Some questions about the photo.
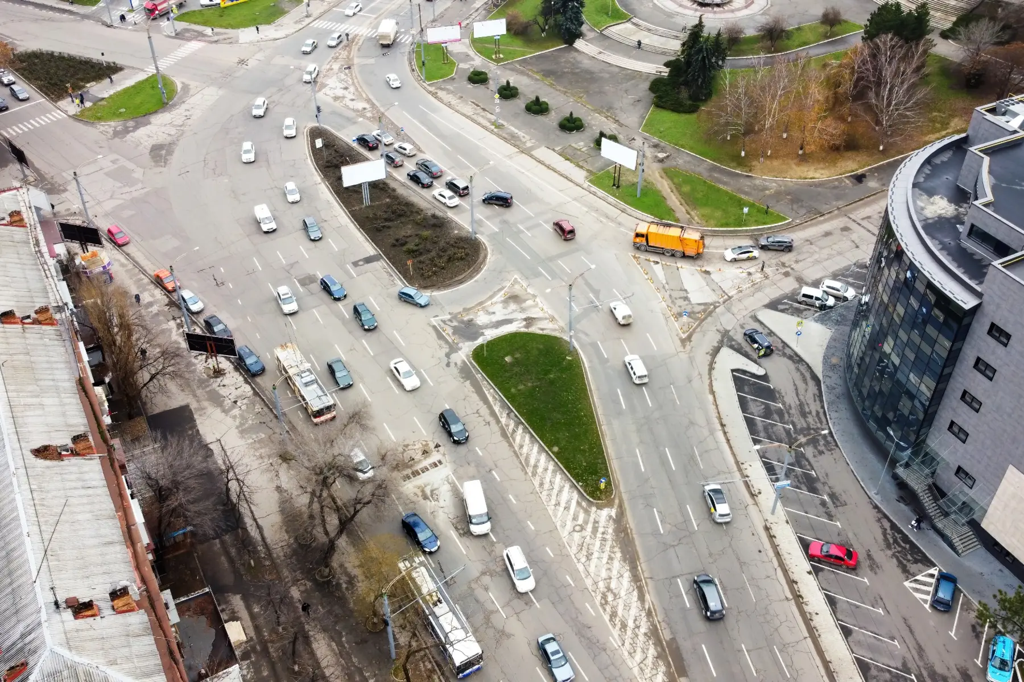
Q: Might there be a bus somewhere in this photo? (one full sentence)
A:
Yes, looking at the shot, I can spot a bus.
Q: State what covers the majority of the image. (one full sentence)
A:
What you mostly see from above here is paved ground.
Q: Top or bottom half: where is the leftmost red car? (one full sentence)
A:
You can find the leftmost red car in the top half.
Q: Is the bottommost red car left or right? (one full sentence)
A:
The bottommost red car is on the right side of the image.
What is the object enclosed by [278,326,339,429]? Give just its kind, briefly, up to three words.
bus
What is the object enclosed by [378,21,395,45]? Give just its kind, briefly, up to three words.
vehicle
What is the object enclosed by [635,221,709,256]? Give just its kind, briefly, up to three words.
truck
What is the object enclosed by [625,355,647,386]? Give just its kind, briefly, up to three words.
car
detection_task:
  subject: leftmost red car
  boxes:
[108,225,128,247]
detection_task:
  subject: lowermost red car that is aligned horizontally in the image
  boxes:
[807,542,859,569]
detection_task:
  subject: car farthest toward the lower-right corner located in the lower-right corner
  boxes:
[988,633,1017,682]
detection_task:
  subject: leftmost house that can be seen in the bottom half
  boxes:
[0,192,197,682]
